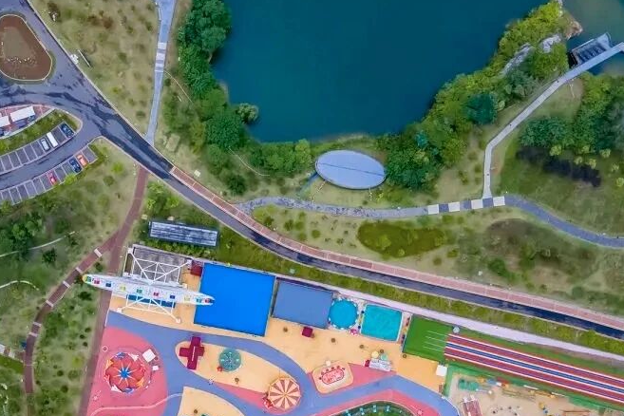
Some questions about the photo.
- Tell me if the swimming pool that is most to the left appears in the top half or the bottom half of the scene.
bottom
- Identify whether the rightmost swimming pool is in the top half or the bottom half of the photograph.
bottom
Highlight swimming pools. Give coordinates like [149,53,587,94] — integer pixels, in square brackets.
[330,299,360,329]
[361,305,403,341]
